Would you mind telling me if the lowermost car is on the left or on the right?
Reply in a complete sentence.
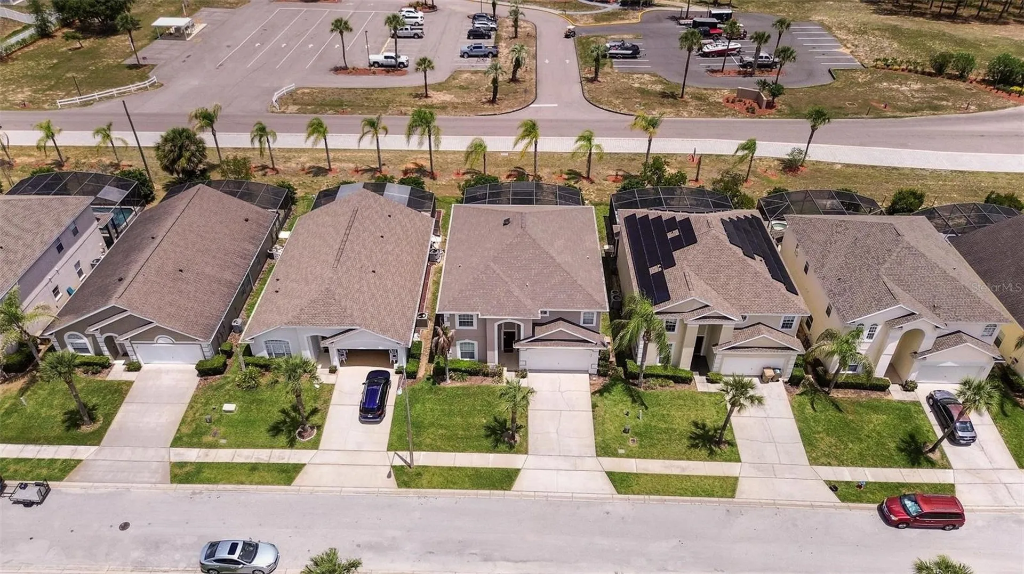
It is on the left.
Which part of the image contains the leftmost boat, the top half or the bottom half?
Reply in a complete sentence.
You can find the leftmost boat in the top half.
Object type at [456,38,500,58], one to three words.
vehicle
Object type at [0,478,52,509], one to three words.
trailer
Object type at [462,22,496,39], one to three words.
car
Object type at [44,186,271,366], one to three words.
house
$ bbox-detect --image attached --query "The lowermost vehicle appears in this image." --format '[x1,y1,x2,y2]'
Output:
[195,538,278,574]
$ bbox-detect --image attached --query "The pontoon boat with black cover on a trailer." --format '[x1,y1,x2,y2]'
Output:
[603,37,651,59]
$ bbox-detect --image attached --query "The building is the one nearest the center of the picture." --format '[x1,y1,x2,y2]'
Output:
[438,204,609,373]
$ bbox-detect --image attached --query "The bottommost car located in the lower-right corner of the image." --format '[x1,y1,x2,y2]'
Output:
[883,491,970,530]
